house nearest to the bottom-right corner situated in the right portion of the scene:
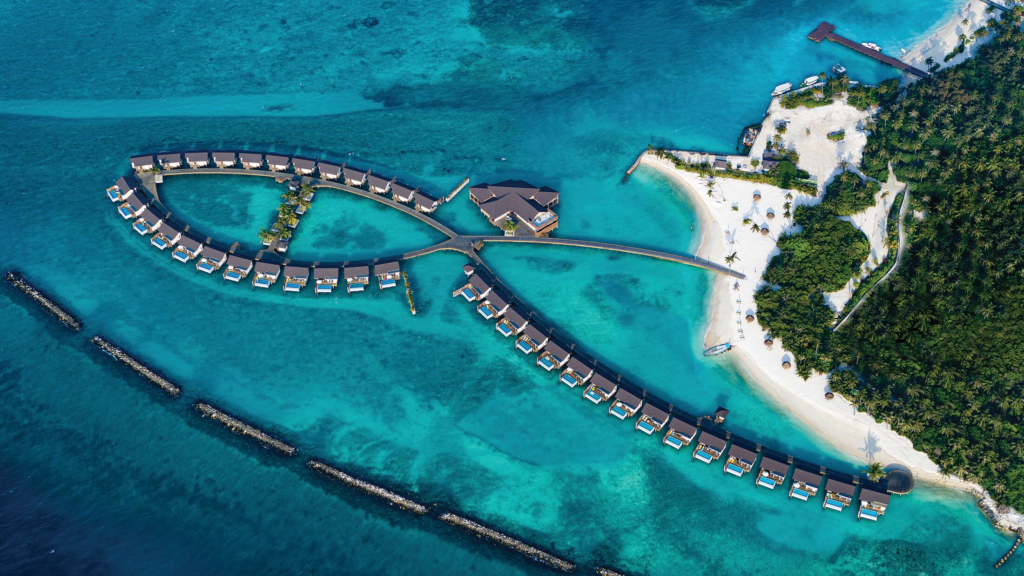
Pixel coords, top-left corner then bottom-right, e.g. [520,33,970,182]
[855,484,891,521]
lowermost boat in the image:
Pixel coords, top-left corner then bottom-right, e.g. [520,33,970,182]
[704,342,732,354]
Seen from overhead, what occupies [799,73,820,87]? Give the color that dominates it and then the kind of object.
white boat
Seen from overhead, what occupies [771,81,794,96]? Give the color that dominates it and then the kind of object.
white boat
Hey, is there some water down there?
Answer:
Yes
